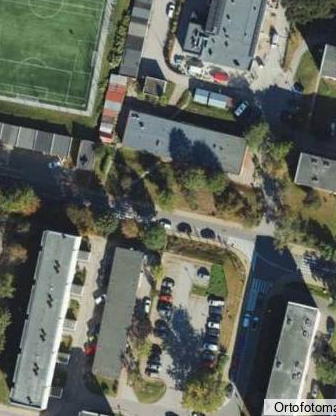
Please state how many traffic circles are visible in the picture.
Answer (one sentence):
The photo contains no traffic circles.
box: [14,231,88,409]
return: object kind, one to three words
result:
building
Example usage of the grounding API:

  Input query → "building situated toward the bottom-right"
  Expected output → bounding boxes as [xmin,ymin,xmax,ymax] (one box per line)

[263,303,320,416]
